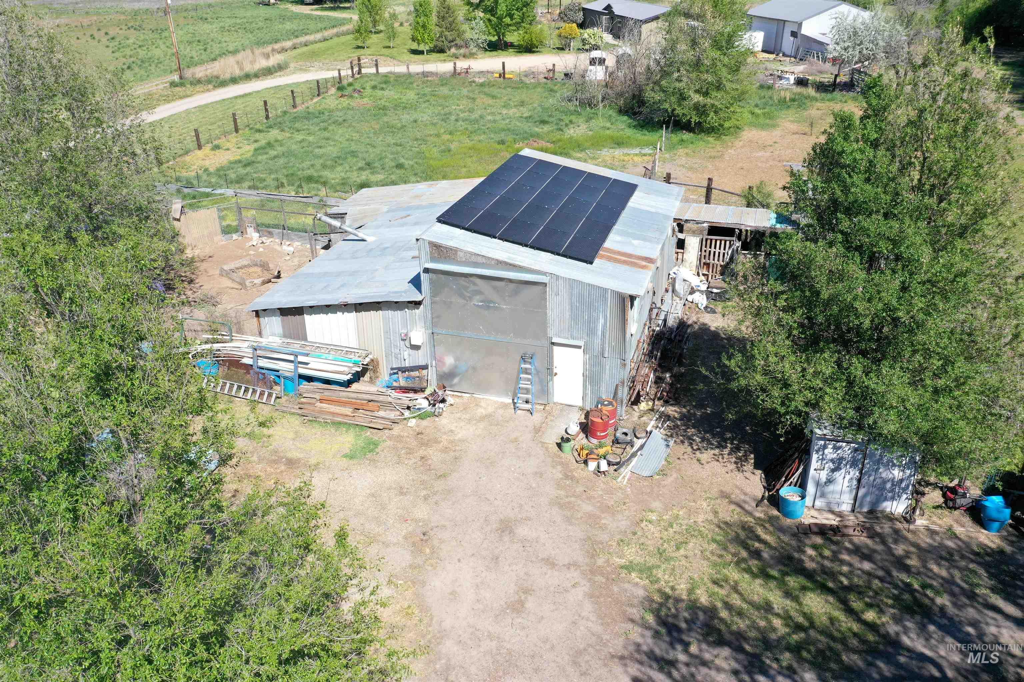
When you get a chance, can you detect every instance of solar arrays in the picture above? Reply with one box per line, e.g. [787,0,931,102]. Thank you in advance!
[436,153,638,266]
